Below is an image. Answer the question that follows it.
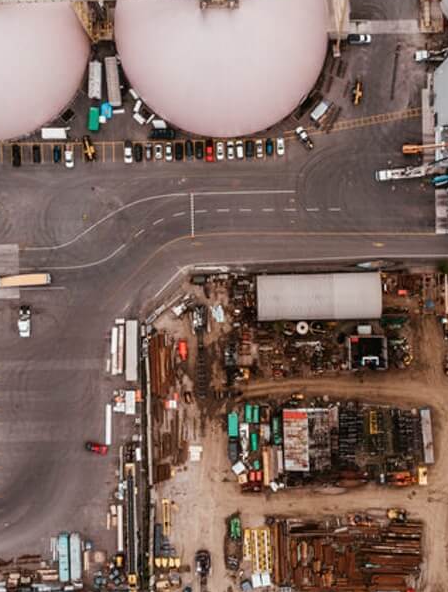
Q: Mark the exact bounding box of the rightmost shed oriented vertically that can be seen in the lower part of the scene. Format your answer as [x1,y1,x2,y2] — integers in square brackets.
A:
[309,407,338,470]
